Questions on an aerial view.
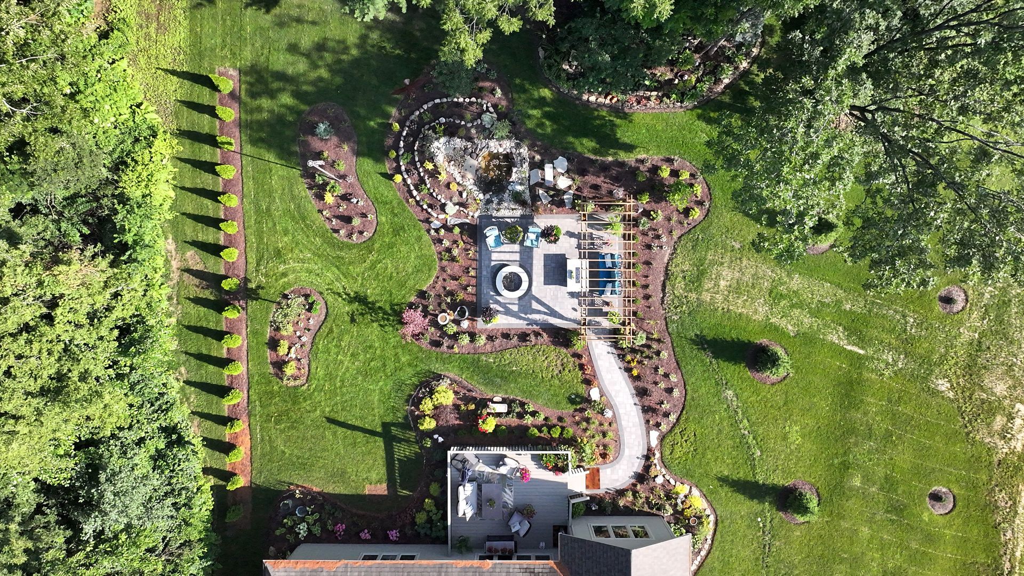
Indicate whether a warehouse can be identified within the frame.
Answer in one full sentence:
No, the picture doesn't show any warehouse.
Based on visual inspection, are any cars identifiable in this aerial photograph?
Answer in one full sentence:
No, I can't see a single car in this photo.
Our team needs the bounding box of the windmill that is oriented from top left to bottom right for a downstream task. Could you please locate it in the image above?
[307,159,344,182]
